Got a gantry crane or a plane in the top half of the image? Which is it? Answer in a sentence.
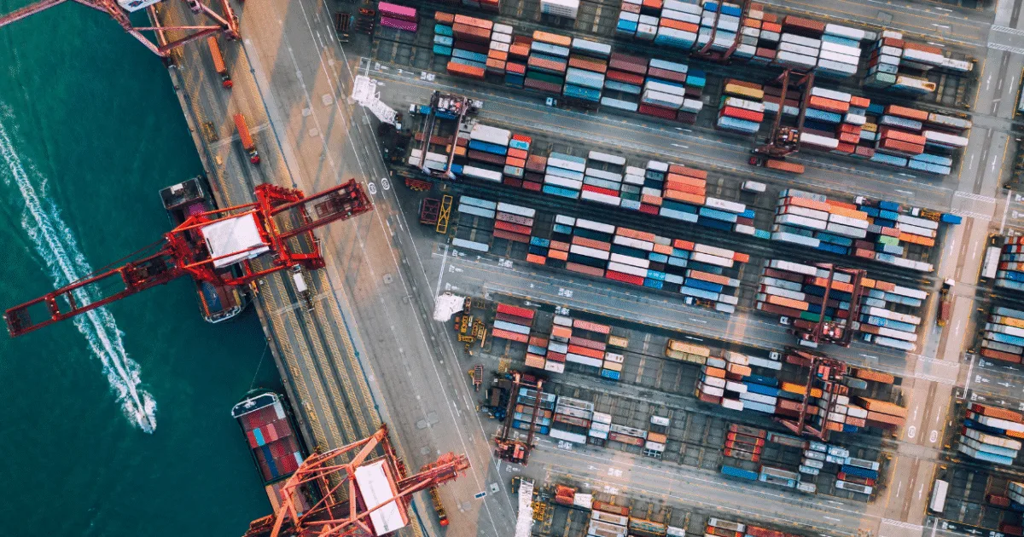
The feature located in the top half of the image is a gantry crane.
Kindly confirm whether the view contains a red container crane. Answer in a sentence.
Yes, a red container crane appears in the view.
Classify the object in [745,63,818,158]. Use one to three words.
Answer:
container crane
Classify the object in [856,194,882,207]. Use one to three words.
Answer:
vehicle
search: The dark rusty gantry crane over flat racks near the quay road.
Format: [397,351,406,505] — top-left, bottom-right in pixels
[493,367,550,466]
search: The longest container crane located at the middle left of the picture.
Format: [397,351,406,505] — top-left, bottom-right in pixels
[4,179,376,337]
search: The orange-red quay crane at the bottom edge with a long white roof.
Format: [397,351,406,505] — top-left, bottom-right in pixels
[225,420,471,537]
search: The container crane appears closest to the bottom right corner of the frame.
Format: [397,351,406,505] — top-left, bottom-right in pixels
[768,346,847,439]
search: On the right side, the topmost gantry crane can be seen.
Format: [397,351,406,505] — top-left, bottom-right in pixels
[689,0,752,66]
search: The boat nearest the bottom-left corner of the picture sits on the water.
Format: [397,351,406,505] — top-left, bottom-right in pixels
[138,412,152,434]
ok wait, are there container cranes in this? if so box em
[689,0,752,66]
[745,63,818,158]
[788,258,864,346]
[416,87,474,184]
[493,367,550,466]
[0,0,244,58]
[225,420,471,537]
[768,346,847,439]
[4,179,376,337]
